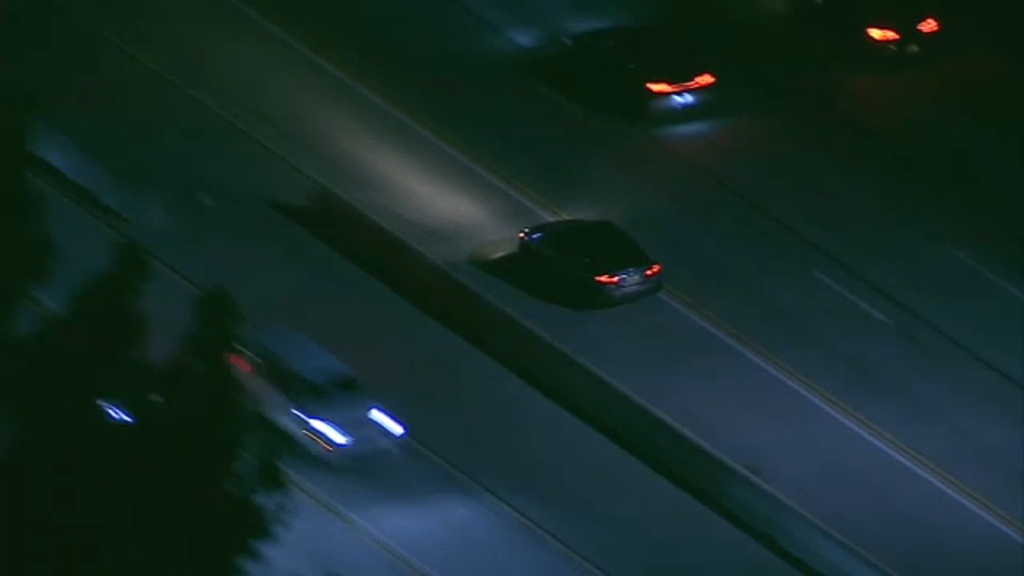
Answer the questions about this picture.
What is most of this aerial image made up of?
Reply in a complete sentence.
The scene is dominated by paved ground.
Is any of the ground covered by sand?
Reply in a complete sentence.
No, no sand is visible.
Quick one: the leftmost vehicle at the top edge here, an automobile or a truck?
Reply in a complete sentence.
I'd say the leftmost vehicle at the top edge is an automobile.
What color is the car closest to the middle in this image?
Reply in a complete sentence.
The car closest to the middle is black.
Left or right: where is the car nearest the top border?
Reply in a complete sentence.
The car nearest the top border is on the right side of the image.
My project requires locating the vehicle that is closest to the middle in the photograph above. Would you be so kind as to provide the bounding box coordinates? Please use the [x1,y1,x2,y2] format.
[501,218,665,313]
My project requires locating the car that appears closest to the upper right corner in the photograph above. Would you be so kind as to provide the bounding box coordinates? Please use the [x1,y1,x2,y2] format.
[783,0,946,67]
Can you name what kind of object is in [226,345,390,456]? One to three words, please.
car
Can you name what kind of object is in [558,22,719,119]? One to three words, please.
car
